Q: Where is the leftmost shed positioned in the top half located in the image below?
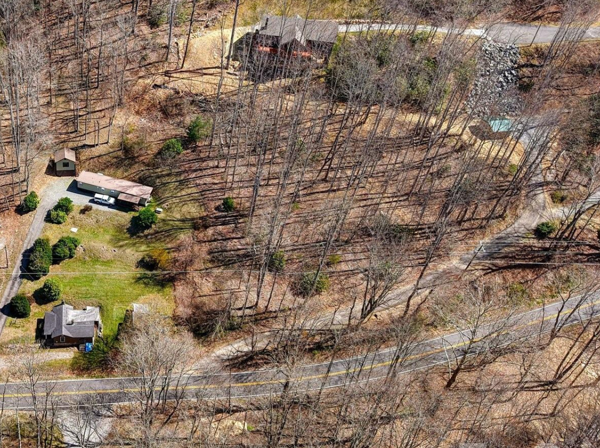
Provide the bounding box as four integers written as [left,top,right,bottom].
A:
[54,145,80,176]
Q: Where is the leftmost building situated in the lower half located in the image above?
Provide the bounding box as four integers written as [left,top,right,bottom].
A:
[42,302,101,347]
